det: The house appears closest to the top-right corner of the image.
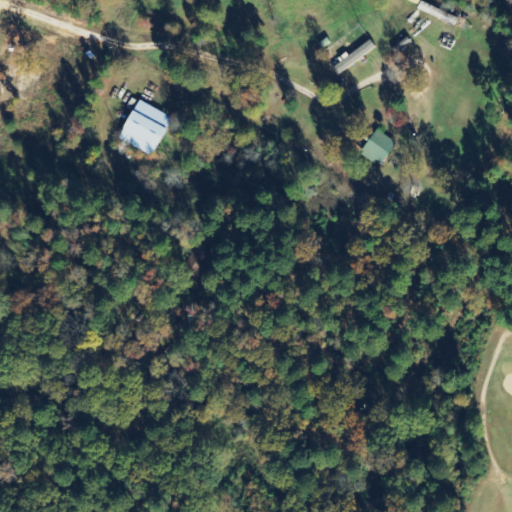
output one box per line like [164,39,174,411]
[416,0,457,26]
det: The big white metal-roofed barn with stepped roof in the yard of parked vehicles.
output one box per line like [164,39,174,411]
[119,100,167,154]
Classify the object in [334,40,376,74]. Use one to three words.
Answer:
house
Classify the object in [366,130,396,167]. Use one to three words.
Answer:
house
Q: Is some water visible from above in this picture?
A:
No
